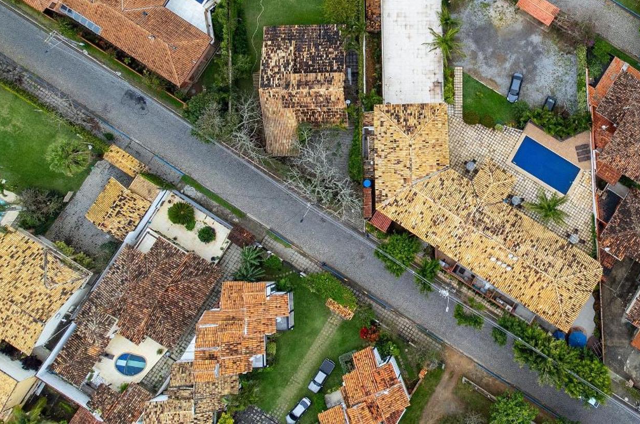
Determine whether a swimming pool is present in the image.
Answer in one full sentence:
Yes, there is a swimming pool in the image.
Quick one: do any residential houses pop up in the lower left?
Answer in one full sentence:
Yes, I can see a residential house in the lower left.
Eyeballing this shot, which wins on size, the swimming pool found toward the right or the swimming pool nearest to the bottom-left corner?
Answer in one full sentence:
The swimming pool found toward the right takes up more space than the swimming pool nearest to the bottom-left corner.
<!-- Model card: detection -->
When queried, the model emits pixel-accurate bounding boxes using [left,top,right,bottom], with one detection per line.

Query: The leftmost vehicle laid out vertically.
[508,73,523,103]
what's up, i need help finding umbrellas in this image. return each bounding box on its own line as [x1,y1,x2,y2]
[553,328,567,340]
[568,329,586,347]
